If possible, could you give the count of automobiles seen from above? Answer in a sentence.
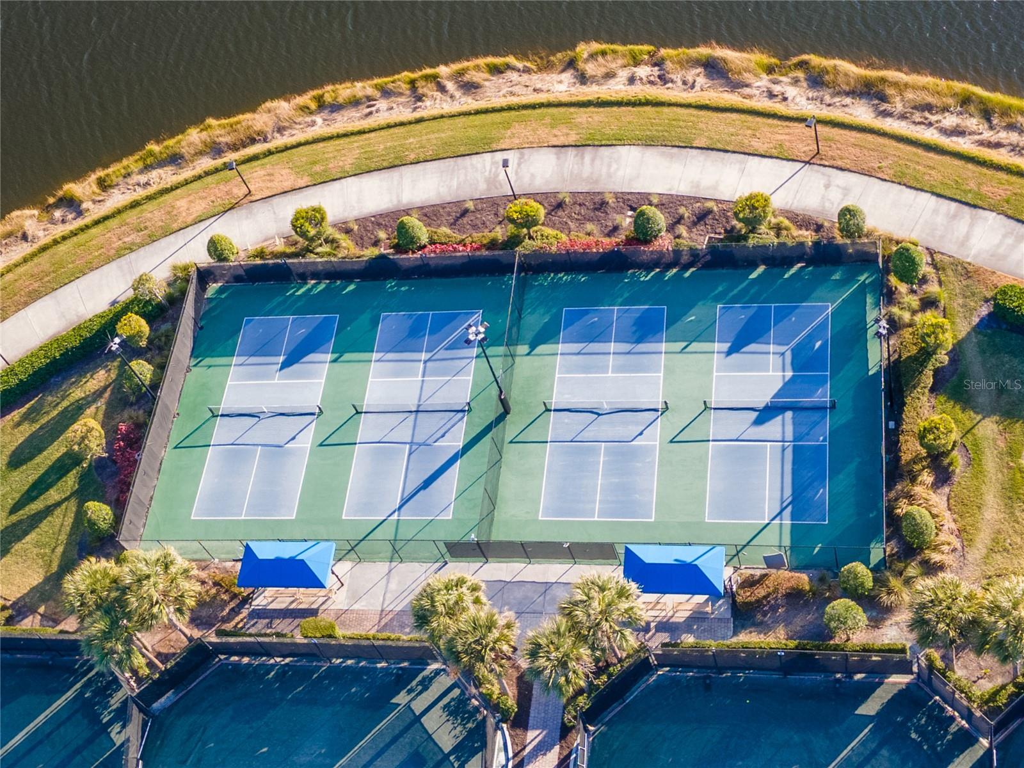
The count of automobiles is 0.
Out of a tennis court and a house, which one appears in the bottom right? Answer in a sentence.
There is a tennis court in the bottom right.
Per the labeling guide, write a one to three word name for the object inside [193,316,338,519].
sports court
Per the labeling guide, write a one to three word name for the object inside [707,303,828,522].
sports court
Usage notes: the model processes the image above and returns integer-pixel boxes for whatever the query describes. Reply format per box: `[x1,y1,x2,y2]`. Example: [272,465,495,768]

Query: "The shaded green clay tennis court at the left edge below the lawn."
[0,654,151,768]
